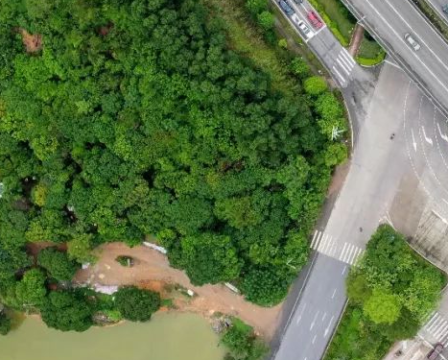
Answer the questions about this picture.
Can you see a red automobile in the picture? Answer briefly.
Yes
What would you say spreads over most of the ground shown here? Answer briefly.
trees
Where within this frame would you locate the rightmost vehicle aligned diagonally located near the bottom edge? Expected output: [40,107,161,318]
[427,342,444,360]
